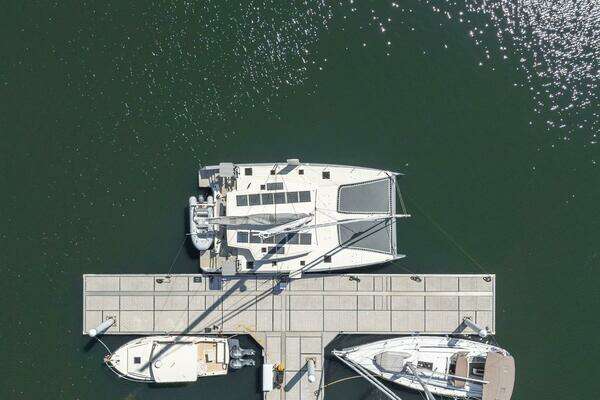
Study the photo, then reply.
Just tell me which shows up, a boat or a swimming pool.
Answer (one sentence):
It is a boat that can be seen here.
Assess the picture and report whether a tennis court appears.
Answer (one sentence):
No, no tennis court is visible in the scene.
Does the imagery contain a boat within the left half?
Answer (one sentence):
Yes, a boat shows up within the left half.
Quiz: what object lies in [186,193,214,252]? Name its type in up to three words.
boat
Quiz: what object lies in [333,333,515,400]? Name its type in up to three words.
boat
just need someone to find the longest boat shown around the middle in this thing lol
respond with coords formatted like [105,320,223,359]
[192,158,408,278]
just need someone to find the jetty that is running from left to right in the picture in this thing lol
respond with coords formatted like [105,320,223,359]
[83,274,495,400]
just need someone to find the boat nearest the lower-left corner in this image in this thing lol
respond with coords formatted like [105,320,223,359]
[103,334,257,384]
